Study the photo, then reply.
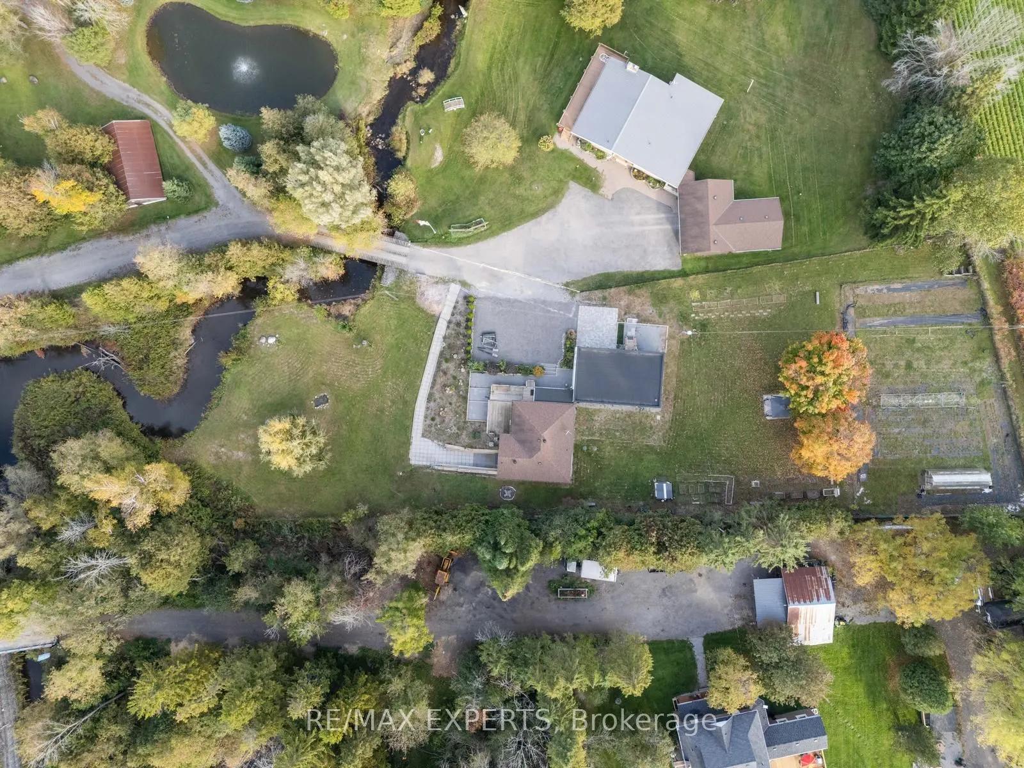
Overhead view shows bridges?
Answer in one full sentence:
Yes, a bridge appears in the view.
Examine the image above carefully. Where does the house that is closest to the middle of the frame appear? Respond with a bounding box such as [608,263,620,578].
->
[486,363,576,483]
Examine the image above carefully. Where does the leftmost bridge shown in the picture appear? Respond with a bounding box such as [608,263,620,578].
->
[310,232,410,269]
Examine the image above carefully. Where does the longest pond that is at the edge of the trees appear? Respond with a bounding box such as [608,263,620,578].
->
[151,6,336,113]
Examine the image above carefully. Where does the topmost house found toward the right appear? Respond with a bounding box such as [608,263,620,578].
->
[557,40,724,196]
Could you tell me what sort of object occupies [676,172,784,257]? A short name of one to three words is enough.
building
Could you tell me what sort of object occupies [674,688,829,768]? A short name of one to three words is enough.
house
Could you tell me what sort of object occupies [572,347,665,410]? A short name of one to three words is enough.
building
